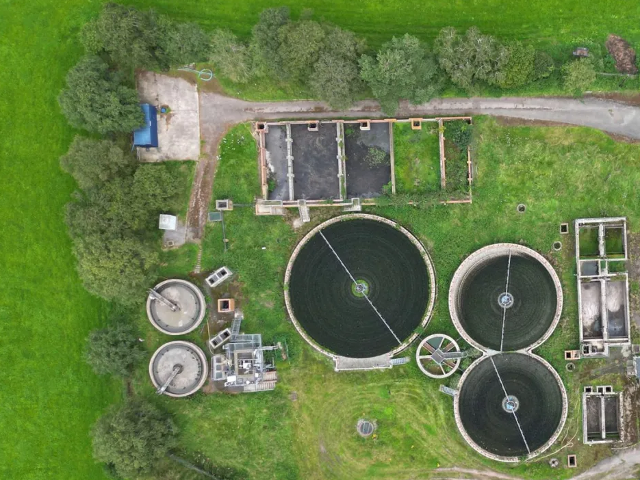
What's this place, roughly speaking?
industrial area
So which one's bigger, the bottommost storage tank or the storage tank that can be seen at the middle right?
the storage tank that can be seen at the middle right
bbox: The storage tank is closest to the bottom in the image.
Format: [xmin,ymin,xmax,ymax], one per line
[582,385,624,445]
